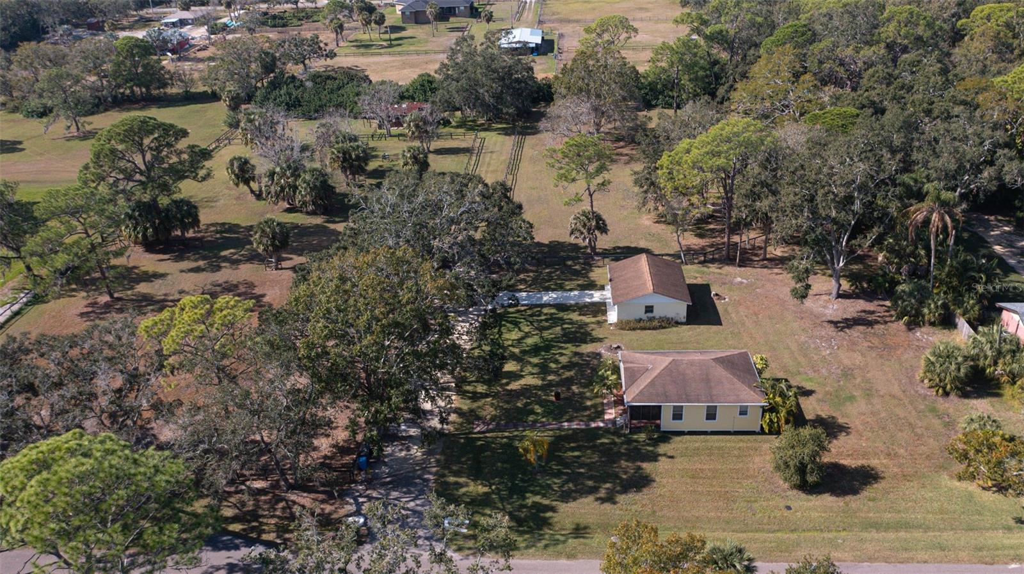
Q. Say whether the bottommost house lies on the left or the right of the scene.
right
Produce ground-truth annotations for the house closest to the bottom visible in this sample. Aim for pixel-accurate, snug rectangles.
[612,350,767,432]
